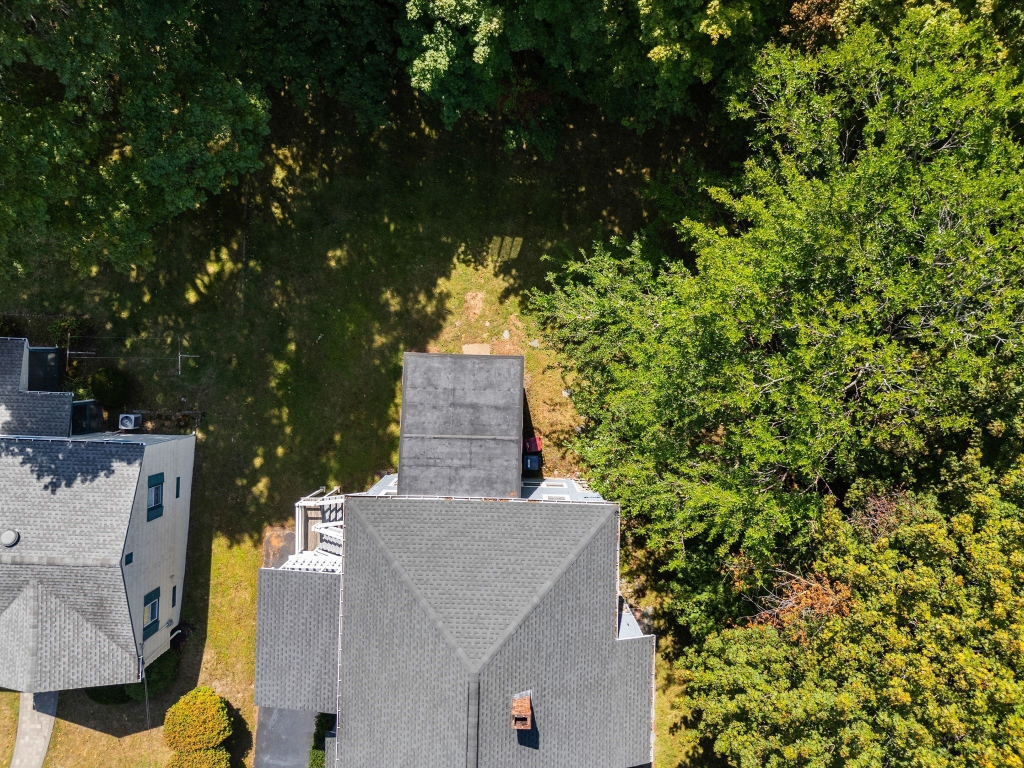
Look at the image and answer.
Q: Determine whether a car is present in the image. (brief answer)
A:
No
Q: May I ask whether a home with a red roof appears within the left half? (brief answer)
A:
No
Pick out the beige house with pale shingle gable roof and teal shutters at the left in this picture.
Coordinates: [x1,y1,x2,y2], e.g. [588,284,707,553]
[0,334,194,691]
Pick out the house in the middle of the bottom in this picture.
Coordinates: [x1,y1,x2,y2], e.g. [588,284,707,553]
[256,353,657,768]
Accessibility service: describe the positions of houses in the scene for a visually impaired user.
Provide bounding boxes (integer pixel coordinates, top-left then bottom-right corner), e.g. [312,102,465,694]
[0,334,194,691]
[256,353,657,768]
